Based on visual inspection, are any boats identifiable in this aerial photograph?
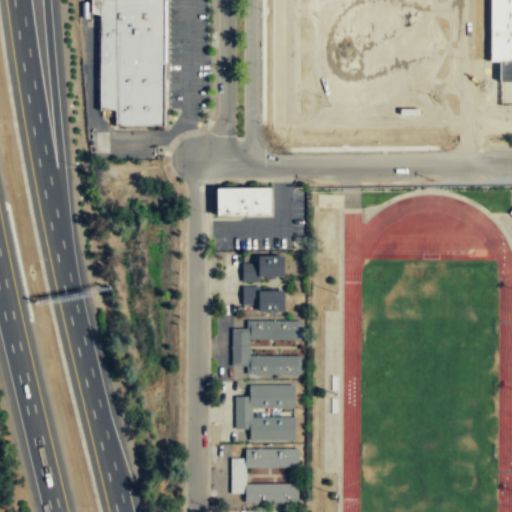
No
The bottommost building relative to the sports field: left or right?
on the left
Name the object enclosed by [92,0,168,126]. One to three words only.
building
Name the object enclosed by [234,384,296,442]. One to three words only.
building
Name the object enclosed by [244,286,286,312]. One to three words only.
house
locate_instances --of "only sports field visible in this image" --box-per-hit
[362,261,499,512]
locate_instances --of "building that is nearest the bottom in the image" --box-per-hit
[232,449,300,502]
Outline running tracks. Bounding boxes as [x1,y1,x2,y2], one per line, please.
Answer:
[345,195,512,512]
